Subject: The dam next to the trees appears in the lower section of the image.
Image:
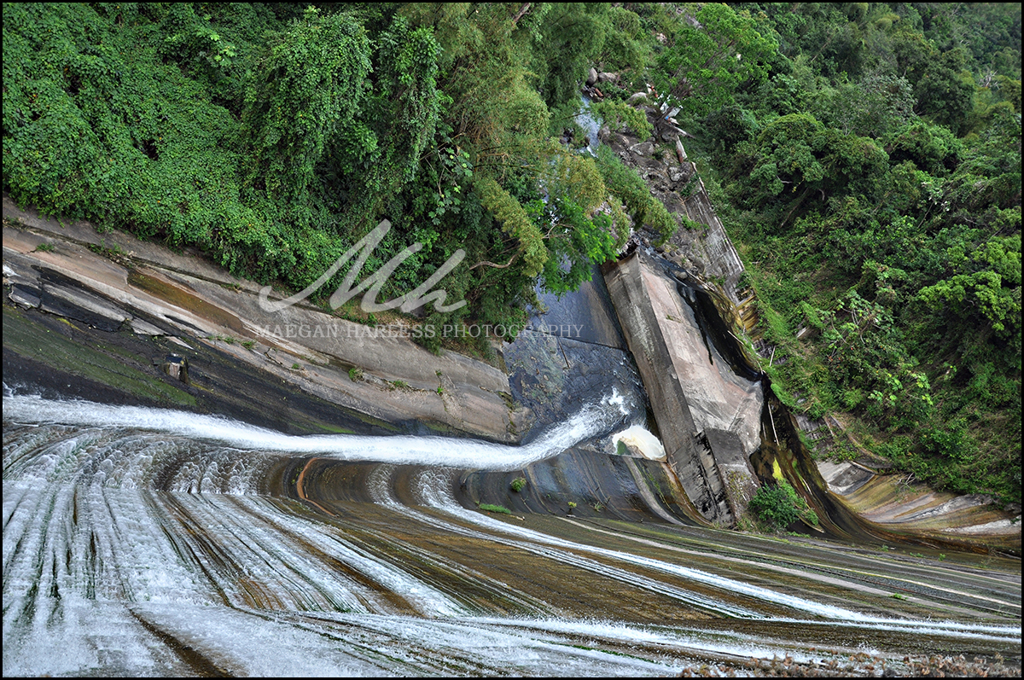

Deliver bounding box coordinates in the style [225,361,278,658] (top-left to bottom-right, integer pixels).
[0,425,1024,680]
